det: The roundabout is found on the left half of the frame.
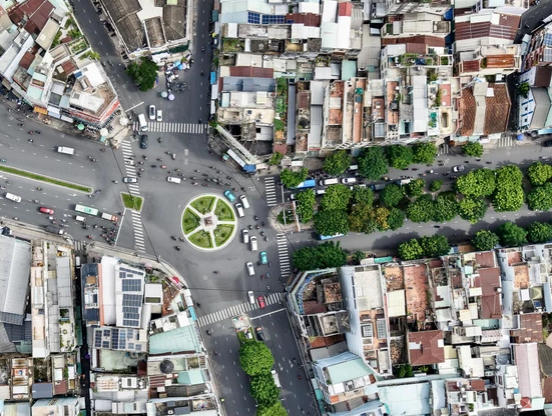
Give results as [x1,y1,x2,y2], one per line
[182,194,237,250]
